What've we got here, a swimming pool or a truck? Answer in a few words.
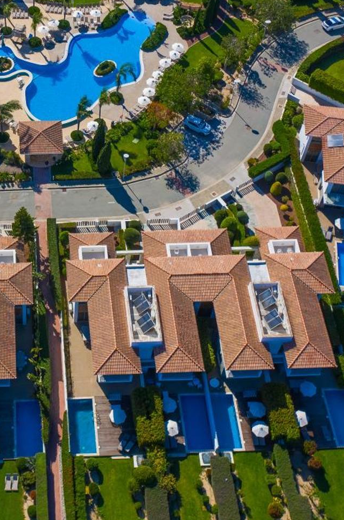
swimming pool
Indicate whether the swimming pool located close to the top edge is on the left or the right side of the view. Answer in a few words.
left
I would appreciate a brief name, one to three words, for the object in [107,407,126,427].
umbrella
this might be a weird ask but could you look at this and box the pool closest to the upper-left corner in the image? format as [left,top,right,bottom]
[0,8,157,123]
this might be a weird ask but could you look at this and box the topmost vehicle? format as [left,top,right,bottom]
[322,16,344,30]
